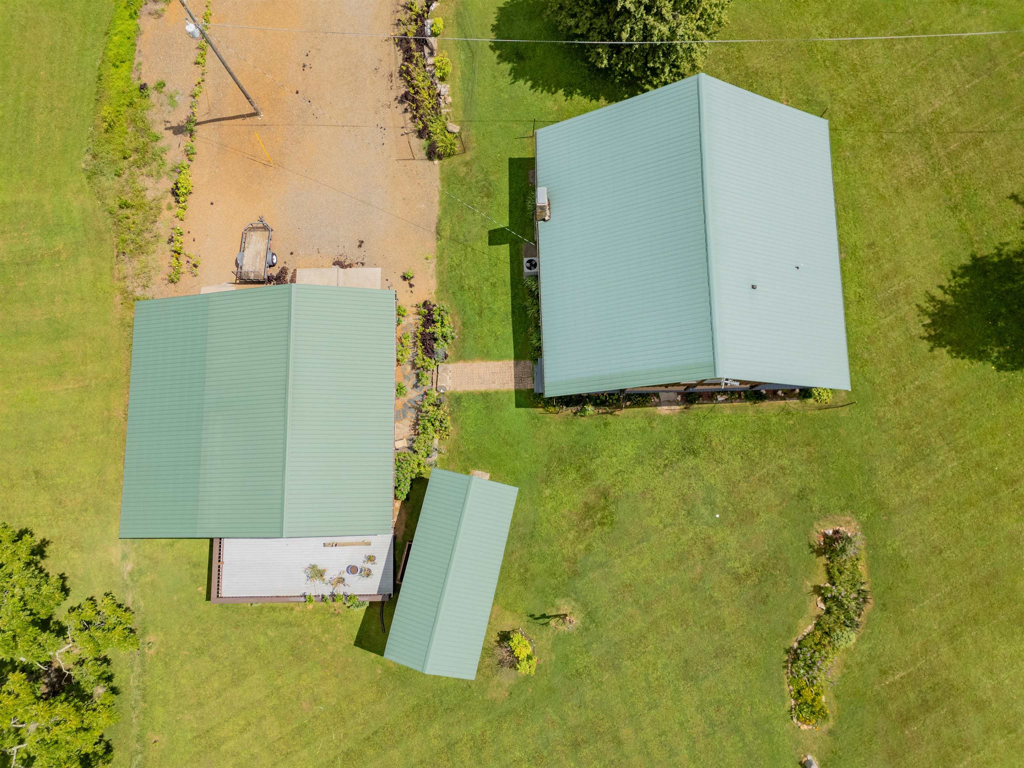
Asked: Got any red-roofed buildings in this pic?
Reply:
No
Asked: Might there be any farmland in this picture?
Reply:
No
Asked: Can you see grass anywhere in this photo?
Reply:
Yes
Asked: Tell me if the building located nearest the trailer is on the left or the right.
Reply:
left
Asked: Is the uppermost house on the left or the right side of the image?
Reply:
right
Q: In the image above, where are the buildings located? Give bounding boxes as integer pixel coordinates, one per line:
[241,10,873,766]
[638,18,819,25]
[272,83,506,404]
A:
[118,282,397,539]
[383,467,519,681]
[534,72,853,398]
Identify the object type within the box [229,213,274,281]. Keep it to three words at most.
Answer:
trailer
